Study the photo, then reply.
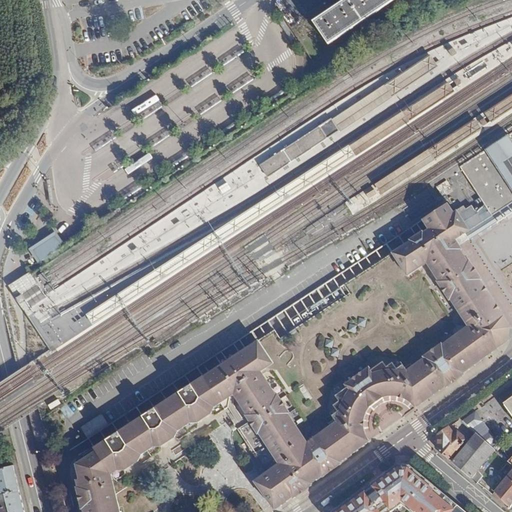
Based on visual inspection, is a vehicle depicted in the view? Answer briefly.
Yes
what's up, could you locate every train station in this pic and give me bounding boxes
[8,16,512,352]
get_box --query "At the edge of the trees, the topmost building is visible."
[311,0,396,44]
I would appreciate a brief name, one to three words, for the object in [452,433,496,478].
house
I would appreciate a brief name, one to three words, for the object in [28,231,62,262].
building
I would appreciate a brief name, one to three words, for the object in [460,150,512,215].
building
